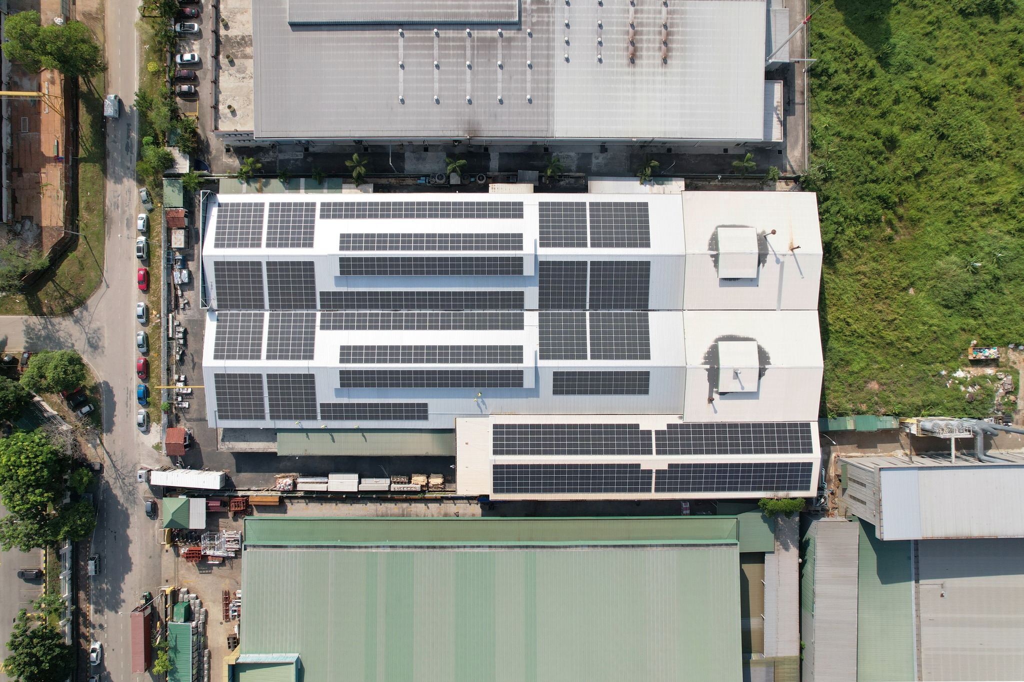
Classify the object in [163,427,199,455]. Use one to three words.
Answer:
building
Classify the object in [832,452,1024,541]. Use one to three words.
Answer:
building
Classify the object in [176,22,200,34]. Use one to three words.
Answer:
vehicle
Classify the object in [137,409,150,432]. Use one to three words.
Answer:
vehicle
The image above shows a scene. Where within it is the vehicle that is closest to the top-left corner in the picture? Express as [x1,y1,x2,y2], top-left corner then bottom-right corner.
[102,95,121,118]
